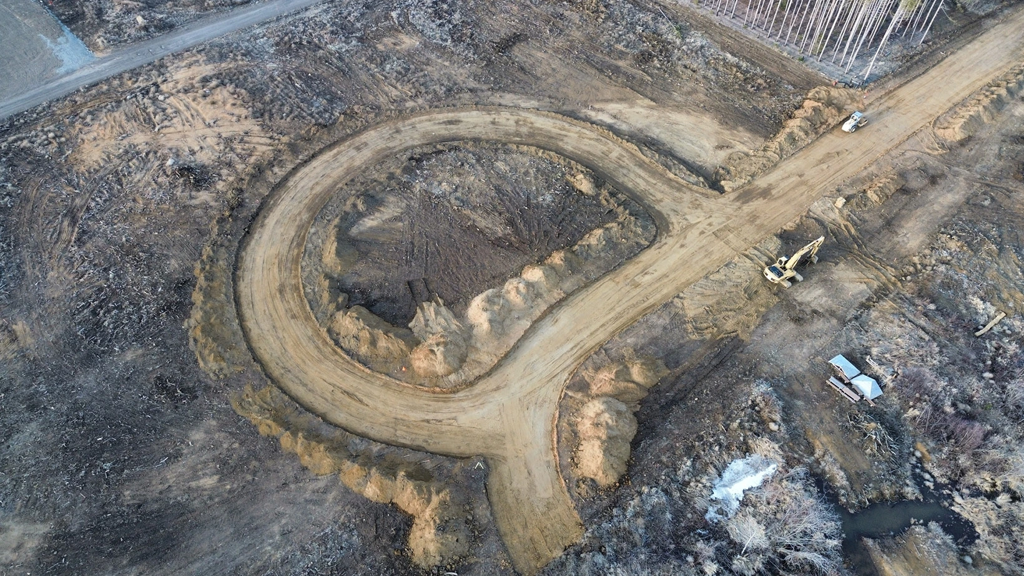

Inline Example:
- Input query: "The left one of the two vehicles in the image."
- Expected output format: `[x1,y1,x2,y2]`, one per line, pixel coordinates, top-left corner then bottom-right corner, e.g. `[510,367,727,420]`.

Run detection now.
[763,233,828,296]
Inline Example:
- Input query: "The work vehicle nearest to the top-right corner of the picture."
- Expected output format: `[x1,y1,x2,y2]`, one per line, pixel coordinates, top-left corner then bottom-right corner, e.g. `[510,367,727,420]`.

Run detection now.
[839,112,870,136]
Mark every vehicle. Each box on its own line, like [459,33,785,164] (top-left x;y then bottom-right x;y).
[839,112,870,136]
[763,233,828,296]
